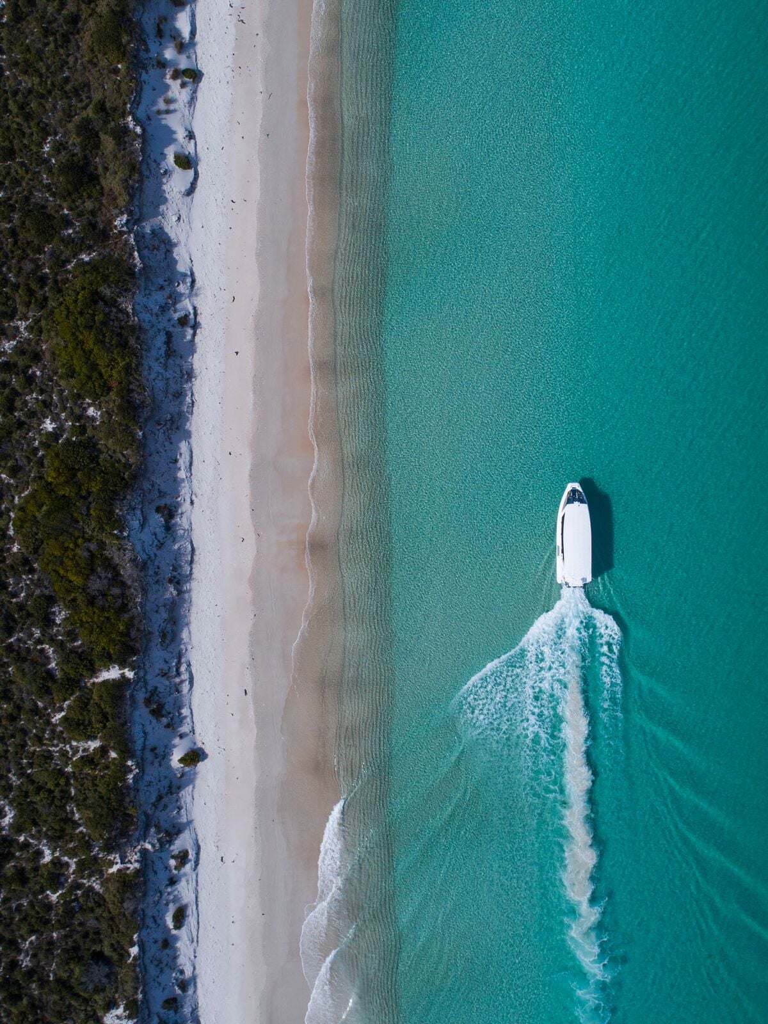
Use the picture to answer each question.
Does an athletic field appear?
No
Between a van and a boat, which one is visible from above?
boat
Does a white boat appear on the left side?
No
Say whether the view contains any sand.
Yes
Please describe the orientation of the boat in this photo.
vertically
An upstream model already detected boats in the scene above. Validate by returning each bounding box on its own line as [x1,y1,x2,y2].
[556,482,592,588]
